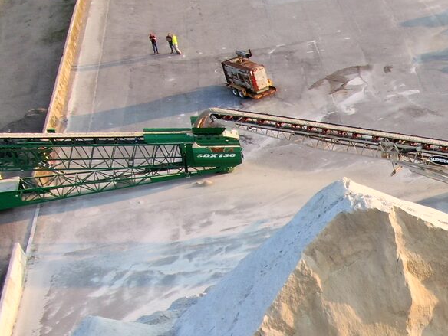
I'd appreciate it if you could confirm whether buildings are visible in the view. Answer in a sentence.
No, I can see no building in this picture.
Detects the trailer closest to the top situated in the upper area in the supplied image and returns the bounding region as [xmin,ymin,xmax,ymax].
[216,41,273,93]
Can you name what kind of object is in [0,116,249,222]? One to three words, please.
work vehicle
